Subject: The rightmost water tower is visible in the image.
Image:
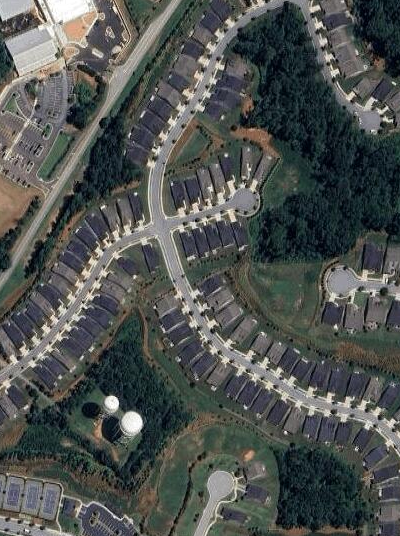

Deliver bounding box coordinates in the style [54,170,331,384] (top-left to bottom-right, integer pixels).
[117,411,144,440]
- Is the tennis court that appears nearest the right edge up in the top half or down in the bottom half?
bottom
